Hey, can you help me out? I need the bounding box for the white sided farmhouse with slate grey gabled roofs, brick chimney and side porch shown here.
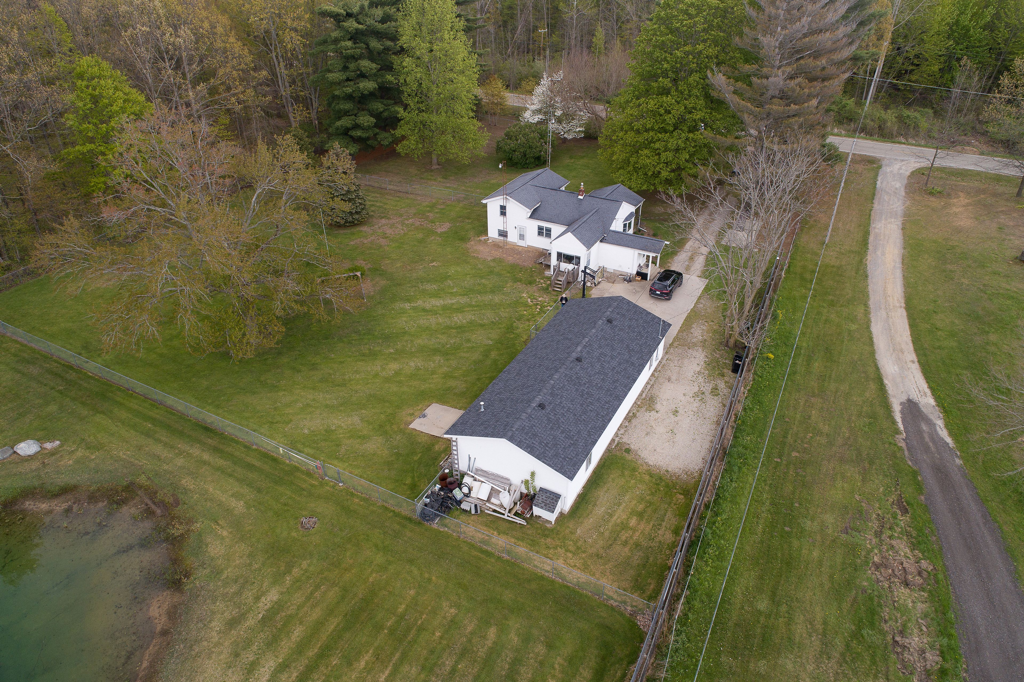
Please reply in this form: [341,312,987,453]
[476,167,672,281]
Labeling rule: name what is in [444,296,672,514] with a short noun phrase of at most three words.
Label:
building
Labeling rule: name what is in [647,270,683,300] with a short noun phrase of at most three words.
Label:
car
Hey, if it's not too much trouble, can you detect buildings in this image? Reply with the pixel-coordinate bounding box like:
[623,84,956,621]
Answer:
[476,167,672,281]
[444,296,672,514]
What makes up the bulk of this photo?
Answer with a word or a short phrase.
grass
